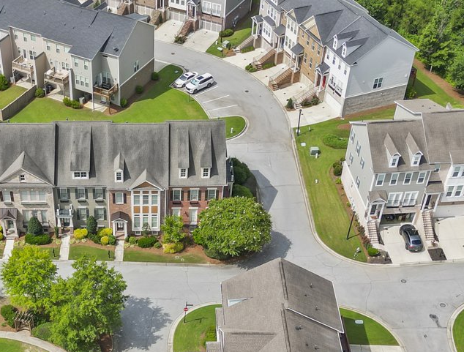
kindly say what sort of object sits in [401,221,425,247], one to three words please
car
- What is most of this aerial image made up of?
buildings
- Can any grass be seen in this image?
Yes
